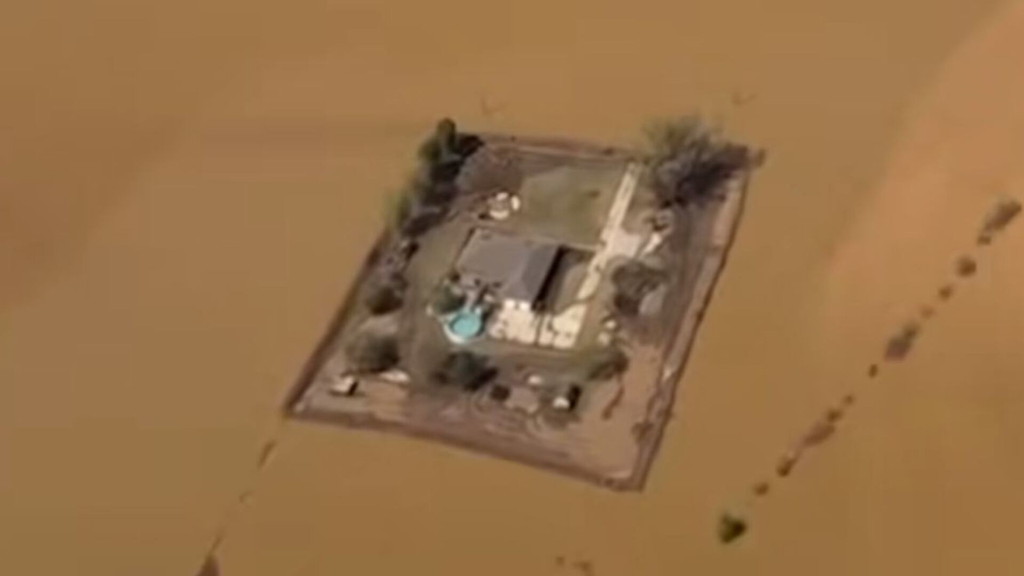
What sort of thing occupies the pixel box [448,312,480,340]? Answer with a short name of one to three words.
swimming pool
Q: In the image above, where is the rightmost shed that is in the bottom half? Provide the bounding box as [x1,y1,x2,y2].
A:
[554,376,579,411]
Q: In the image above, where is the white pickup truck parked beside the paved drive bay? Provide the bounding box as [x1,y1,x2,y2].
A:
[644,231,665,252]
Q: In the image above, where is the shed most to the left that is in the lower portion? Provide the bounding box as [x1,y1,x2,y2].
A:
[333,373,357,396]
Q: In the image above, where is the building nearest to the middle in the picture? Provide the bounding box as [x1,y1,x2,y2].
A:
[457,230,559,312]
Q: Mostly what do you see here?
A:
water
